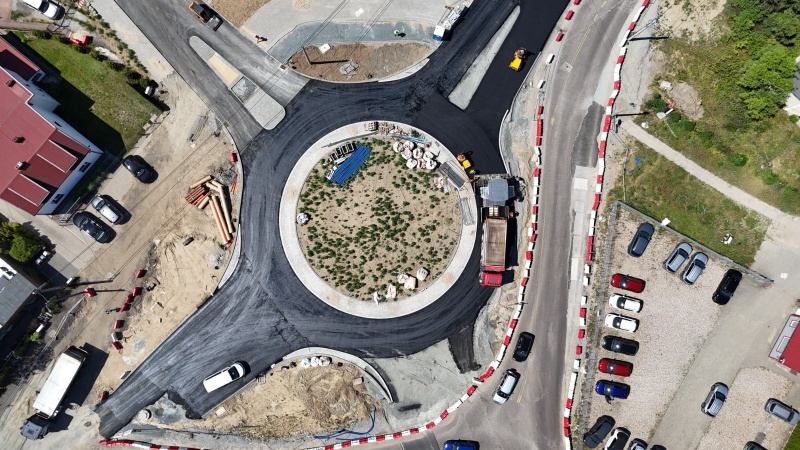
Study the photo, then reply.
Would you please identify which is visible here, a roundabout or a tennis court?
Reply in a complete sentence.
It is a roundabout that can be seen here.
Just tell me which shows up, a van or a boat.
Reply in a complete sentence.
Looking from above, you can make out a van.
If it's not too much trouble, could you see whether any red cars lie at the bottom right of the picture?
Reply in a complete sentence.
Yes, a red car is visible at the bottom right of the picture.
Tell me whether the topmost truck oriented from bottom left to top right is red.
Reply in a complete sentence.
No, from above the topmost truck oriented from bottom left to top right looks white.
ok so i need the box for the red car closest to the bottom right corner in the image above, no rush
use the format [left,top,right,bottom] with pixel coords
[597,357,632,376]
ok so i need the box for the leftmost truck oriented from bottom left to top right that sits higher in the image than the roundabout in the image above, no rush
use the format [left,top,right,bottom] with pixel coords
[428,0,471,45]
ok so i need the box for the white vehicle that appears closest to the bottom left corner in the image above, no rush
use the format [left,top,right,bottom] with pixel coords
[21,348,92,439]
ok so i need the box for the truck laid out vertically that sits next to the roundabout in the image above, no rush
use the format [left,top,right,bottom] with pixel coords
[480,212,508,292]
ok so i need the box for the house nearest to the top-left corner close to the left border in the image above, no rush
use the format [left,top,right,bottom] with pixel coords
[0,62,102,216]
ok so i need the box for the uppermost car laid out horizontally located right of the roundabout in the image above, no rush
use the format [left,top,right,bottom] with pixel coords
[609,273,645,292]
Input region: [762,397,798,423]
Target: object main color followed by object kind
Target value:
gray car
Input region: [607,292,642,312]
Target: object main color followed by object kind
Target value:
white car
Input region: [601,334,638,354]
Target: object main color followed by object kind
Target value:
black car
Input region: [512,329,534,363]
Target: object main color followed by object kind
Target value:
black car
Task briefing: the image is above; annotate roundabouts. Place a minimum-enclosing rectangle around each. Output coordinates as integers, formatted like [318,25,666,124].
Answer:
[279,120,477,319]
